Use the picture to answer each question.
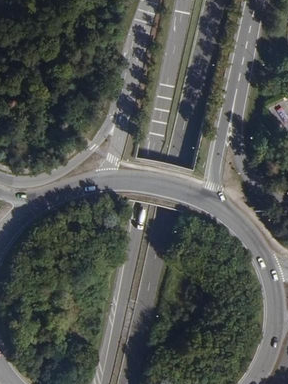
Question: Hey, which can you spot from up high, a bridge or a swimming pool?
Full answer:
Looking from above, you can make out a bridge.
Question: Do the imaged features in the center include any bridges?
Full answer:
Yes, there is a bridge in the center.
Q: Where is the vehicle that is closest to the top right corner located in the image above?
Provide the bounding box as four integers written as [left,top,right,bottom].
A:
[275,105,288,122]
